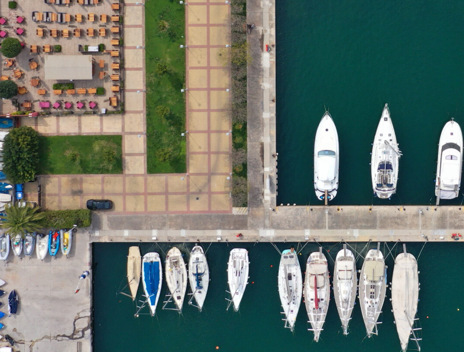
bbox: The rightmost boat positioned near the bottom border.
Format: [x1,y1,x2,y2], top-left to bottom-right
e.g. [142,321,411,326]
[386,243,427,352]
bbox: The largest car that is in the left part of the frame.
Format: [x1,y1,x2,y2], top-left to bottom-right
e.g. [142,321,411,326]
[87,199,112,212]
